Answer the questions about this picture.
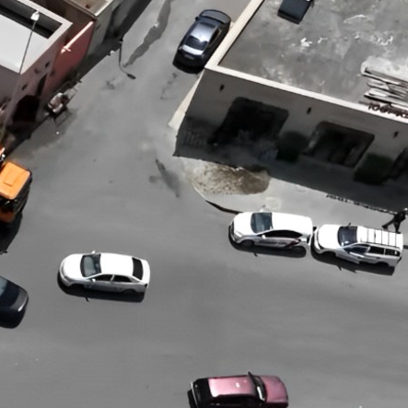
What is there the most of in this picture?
paved ground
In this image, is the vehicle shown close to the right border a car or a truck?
car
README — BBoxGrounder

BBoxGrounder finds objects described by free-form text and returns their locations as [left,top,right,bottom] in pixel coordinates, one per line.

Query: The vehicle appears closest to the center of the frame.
[229,208,312,256]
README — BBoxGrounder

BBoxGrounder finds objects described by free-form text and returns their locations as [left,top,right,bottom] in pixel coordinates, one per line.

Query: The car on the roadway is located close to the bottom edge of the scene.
[190,368,289,408]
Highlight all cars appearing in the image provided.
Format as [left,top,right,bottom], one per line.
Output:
[313,221,402,270]
[229,208,312,256]
[58,248,149,297]
[0,276,30,323]
[190,368,289,408]
[173,9,228,71]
